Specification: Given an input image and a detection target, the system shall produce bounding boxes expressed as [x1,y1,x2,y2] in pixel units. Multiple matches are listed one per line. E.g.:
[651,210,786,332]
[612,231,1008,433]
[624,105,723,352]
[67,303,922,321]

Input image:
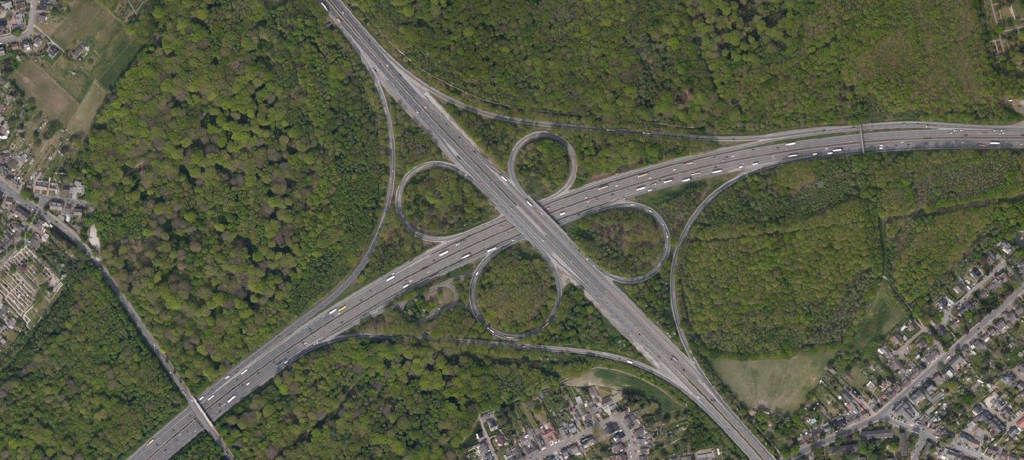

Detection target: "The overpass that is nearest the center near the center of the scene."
[511,199,560,249]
